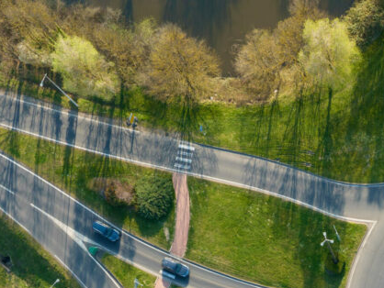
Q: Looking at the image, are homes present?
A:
No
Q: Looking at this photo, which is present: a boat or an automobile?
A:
automobile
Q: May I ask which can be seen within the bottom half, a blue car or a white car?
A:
blue car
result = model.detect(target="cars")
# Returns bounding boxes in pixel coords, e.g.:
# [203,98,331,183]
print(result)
[91,220,122,241]
[160,258,189,278]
